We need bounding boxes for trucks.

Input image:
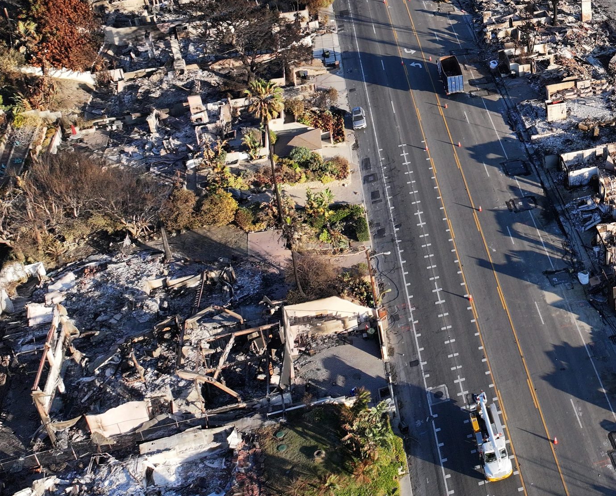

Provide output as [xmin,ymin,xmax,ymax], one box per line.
[434,50,463,93]
[459,373,509,478]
